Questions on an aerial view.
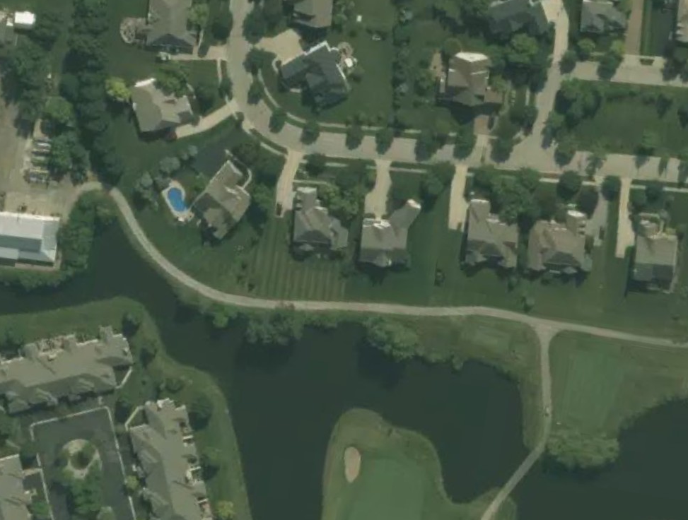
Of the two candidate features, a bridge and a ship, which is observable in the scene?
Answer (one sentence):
There is a bridge in the scene.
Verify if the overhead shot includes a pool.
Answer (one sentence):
Yes, I can see a pool in this picture.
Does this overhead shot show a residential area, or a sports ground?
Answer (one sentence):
The picture captures a residential area.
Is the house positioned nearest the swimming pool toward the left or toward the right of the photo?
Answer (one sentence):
The house positioned nearest the swimming pool sits on the left side.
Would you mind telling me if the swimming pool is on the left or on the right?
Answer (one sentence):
The swimming pool is on the left side of the image.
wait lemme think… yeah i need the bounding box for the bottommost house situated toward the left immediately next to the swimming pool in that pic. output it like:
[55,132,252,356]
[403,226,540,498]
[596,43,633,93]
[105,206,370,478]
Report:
[195,157,257,240]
